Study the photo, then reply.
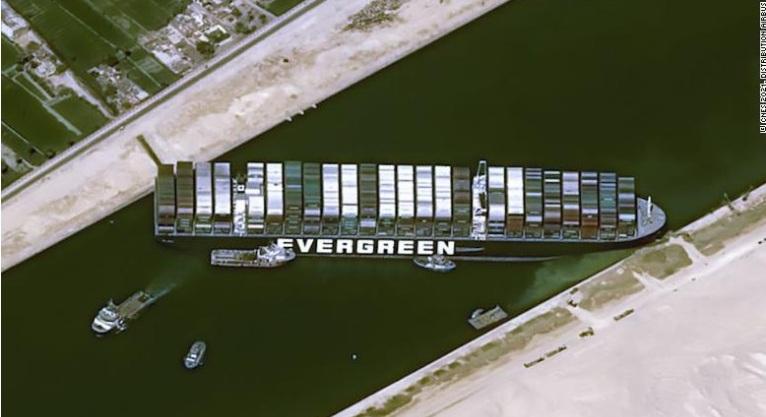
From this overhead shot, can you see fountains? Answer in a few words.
No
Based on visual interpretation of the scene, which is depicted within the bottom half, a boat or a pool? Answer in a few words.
boat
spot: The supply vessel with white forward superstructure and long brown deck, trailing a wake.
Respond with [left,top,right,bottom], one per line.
[94,288,153,329]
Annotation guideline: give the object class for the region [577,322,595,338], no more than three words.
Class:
work vehicle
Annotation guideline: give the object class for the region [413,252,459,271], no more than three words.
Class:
boat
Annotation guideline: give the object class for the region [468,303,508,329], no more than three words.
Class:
ship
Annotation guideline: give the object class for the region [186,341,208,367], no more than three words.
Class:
boat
